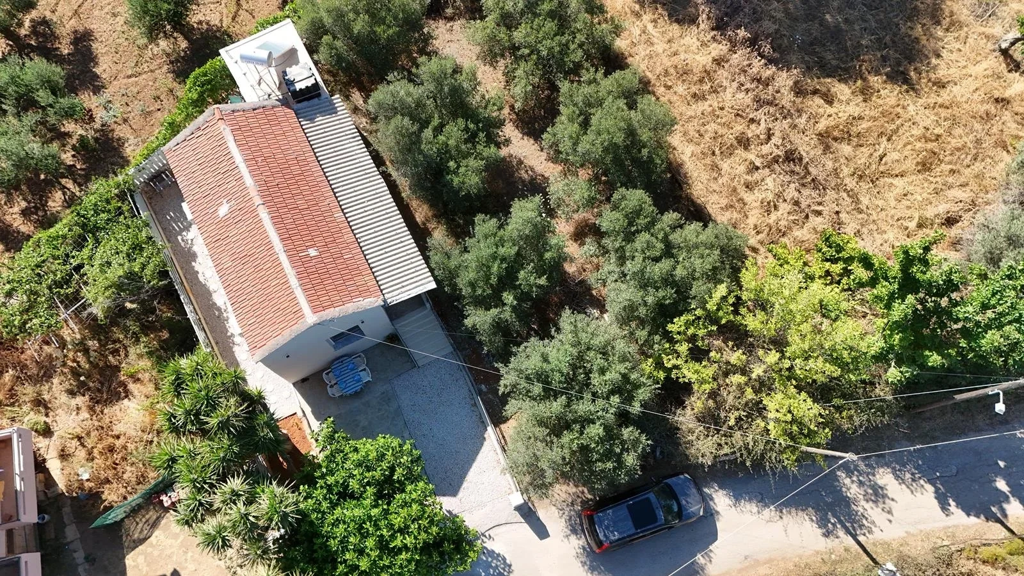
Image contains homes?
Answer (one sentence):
Yes, a home can be made out from above.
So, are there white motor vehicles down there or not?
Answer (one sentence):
No, there appears to be no white motor vehicle in this shot.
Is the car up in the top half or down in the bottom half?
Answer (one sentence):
The bottom half of the photo is where the car is.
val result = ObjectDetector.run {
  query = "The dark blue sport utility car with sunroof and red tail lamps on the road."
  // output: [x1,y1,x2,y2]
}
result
[579,473,702,555]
